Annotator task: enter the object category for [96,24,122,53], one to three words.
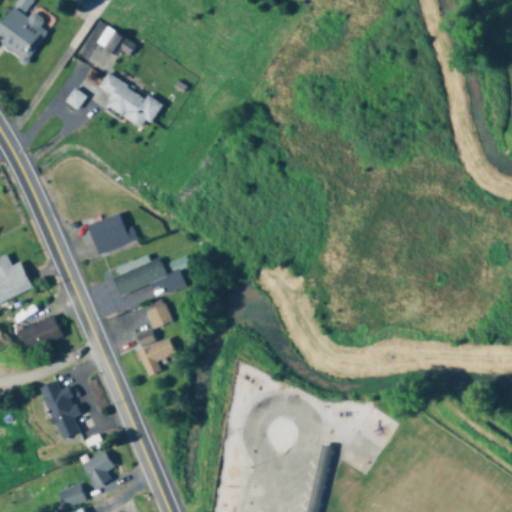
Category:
building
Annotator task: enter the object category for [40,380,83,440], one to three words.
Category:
house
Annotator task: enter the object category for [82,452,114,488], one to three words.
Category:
house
